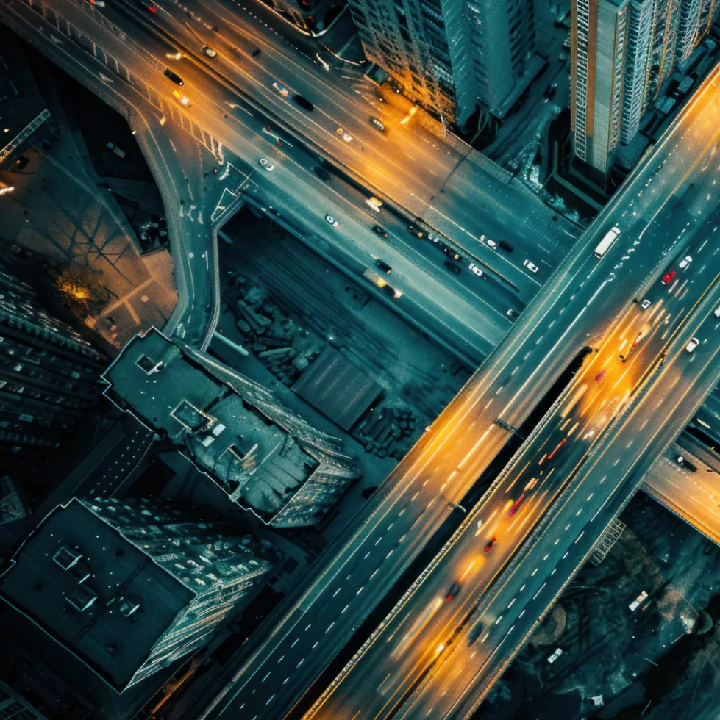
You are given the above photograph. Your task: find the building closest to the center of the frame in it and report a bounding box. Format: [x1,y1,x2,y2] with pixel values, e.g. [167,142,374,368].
[291,348,388,431]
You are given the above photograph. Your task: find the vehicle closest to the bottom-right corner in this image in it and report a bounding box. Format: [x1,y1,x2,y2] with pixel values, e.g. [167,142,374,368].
[630,593,647,611]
